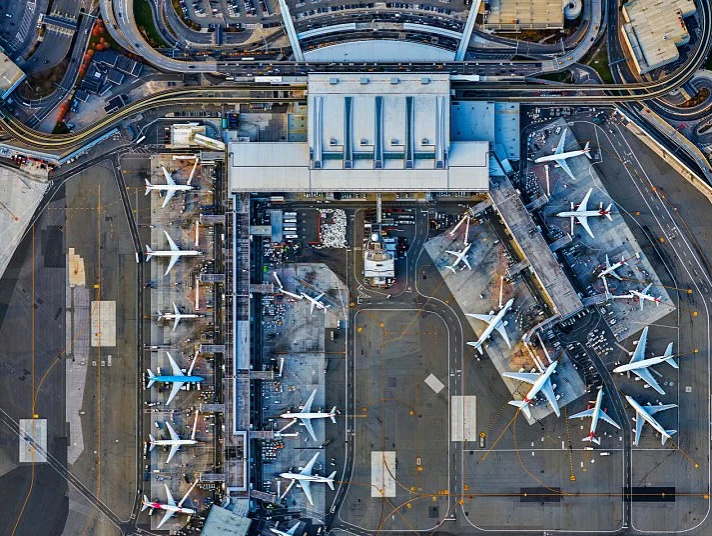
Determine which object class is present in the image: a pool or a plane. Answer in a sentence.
Visible in the photo is a plane.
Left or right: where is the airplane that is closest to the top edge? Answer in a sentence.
The airplane that is closest to the top edge appears in the right half of the scene.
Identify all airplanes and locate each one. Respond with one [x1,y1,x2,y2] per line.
[568,388,621,442]
[155,301,202,331]
[557,188,613,238]
[271,523,303,536]
[599,254,629,279]
[467,299,515,352]
[504,361,561,418]
[146,230,202,276]
[535,128,592,179]
[613,326,681,393]
[143,484,195,528]
[631,284,661,312]
[276,452,337,506]
[302,291,332,314]
[148,352,204,406]
[444,244,472,273]
[281,389,335,442]
[147,166,193,209]
[627,395,676,445]
[148,421,196,463]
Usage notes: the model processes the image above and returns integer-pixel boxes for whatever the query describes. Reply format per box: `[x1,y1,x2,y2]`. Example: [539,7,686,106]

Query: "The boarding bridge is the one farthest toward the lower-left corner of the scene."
[178,478,199,508]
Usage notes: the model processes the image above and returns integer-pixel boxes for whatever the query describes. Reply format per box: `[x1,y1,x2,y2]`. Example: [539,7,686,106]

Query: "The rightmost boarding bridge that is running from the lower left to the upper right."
[450,212,471,236]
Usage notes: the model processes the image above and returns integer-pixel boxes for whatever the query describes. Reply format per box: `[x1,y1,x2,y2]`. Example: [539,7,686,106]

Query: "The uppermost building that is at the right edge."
[618,0,696,75]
